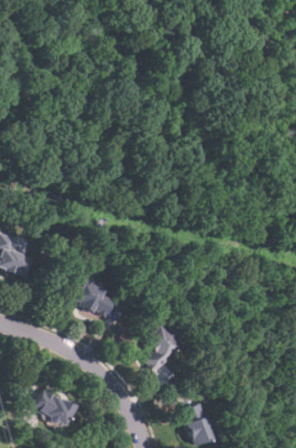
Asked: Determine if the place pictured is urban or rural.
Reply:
rural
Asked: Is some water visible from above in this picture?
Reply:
No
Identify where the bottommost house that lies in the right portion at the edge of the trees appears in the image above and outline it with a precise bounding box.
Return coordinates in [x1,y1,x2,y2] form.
[187,414,216,444]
